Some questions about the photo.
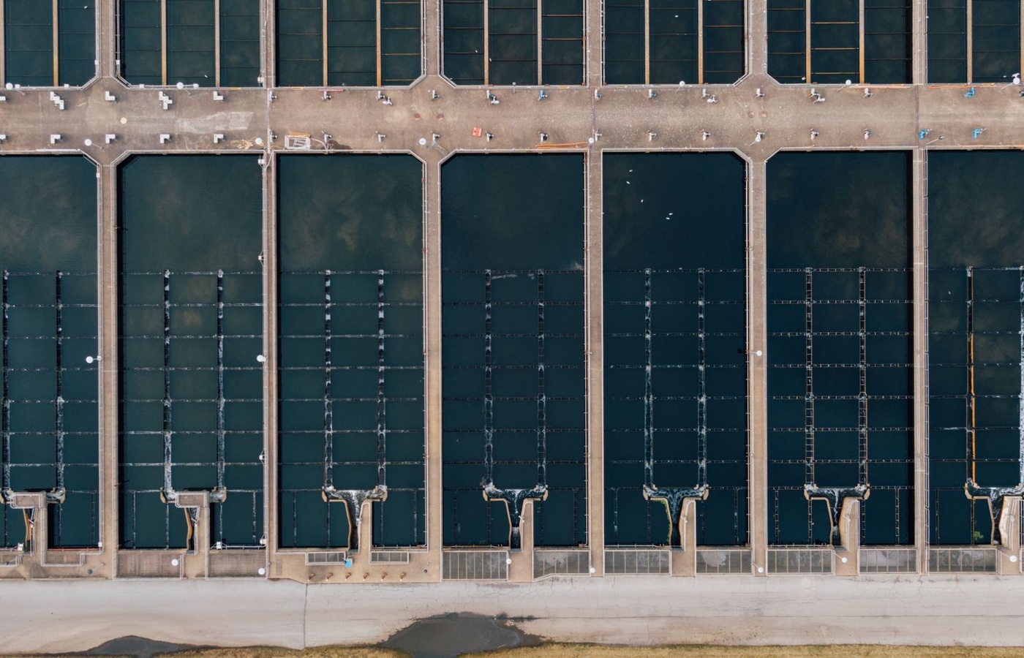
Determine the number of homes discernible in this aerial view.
zero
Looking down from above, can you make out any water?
Yes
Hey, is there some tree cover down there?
No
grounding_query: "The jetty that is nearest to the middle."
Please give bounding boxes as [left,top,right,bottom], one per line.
[522,500,535,551]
